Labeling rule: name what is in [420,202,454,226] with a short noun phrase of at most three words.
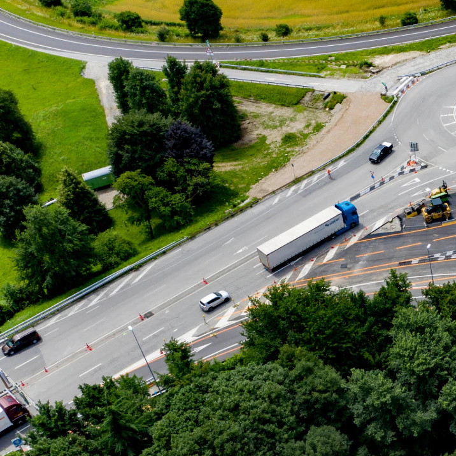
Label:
work vehicle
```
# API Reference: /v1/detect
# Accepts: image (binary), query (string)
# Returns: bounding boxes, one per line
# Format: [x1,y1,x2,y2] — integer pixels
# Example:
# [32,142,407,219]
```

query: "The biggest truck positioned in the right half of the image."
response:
[258,208,357,269]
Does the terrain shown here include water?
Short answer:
No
